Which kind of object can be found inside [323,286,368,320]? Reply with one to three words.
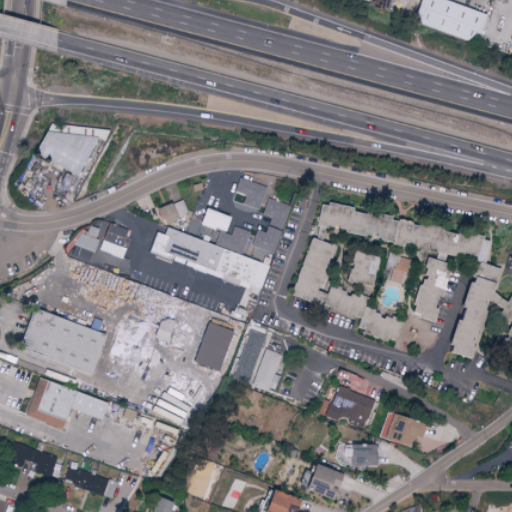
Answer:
building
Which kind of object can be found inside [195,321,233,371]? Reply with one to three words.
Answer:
shed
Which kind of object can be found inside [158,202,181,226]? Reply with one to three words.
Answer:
house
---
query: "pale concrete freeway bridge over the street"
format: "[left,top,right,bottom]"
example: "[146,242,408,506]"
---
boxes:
[0,12,58,54]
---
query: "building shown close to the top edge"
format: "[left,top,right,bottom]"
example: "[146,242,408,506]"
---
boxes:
[420,0,490,40]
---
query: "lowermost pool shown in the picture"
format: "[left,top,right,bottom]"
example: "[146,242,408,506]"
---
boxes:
[254,451,270,472]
